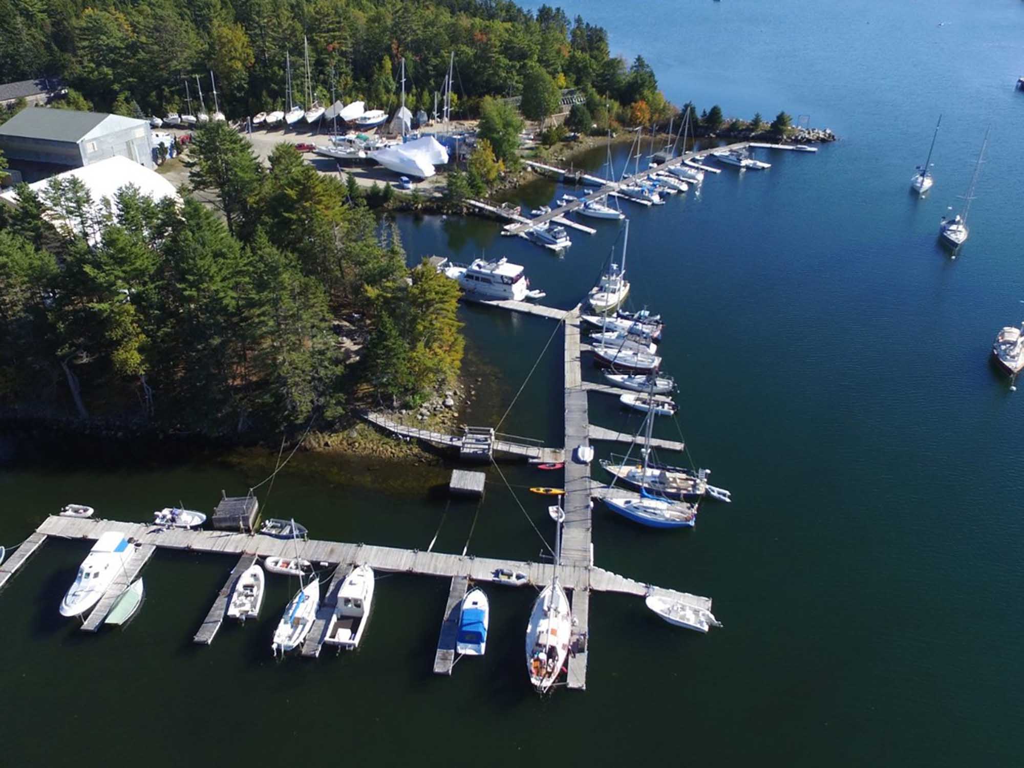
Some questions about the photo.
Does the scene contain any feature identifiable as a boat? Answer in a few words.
Yes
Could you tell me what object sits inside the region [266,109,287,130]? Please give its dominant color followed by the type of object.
white boat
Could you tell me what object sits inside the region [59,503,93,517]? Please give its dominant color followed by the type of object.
white boat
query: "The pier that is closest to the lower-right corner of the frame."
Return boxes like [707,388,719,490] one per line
[646,586,712,614]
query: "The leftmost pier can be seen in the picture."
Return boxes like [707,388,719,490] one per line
[0,533,48,592]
